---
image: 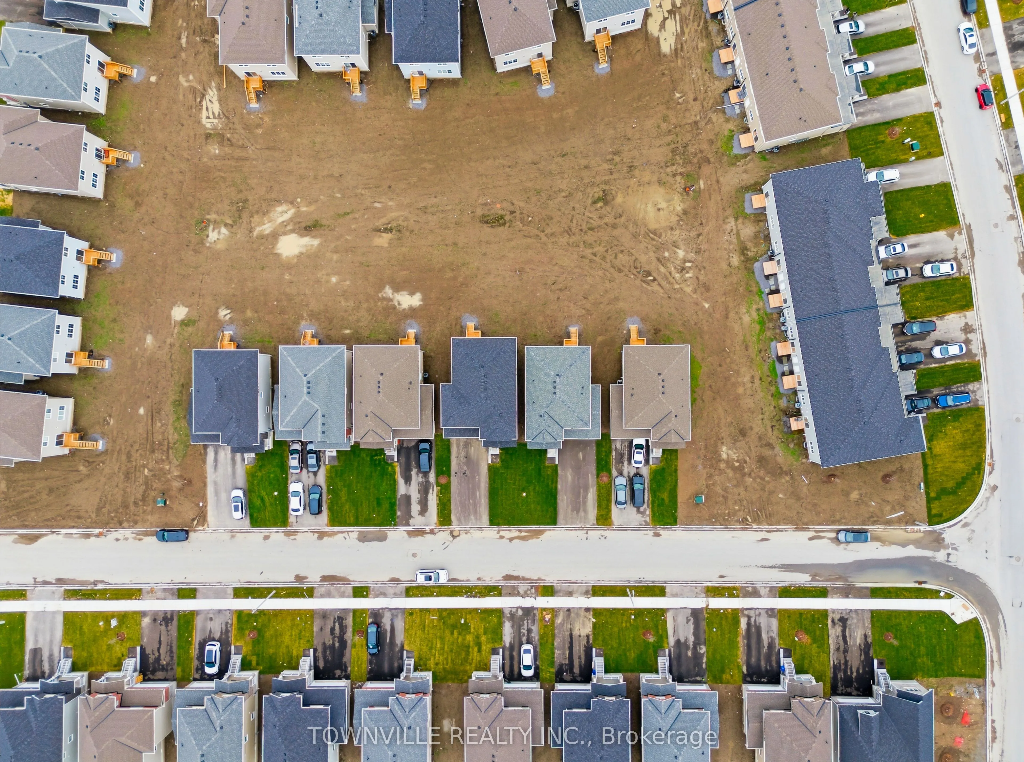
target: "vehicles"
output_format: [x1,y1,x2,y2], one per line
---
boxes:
[834,16,866,34]
[878,243,909,259]
[304,442,322,473]
[867,167,901,183]
[921,261,957,277]
[882,266,913,282]
[415,568,449,585]
[613,475,629,508]
[287,440,304,473]
[930,342,966,359]
[229,488,248,520]
[520,643,535,677]
[897,351,925,366]
[974,83,994,111]
[630,474,647,508]
[631,439,646,469]
[416,440,433,473]
[307,484,324,516]
[844,59,874,76]
[956,22,977,56]
[203,641,222,675]
[902,320,938,337]
[156,528,190,544]
[836,529,871,545]
[961,0,980,16]
[289,481,305,515]
[906,396,935,413]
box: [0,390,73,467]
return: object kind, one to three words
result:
house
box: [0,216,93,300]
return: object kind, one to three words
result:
house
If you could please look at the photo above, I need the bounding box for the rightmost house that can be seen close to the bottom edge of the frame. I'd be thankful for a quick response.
[832,659,934,762]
